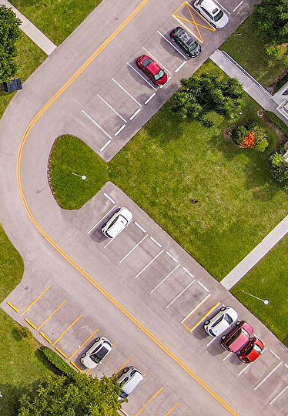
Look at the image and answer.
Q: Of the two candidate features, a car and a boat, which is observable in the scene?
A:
car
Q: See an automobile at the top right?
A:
Yes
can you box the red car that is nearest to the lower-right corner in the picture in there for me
[236,335,267,366]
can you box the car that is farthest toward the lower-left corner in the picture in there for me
[81,336,115,369]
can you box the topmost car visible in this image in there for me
[192,0,231,29]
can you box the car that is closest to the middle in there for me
[100,206,135,240]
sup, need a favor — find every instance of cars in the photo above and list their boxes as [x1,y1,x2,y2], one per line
[236,335,267,366]
[134,52,169,87]
[168,25,202,58]
[100,206,135,240]
[192,0,231,29]
[219,318,257,355]
[81,336,115,369]
[204,303,239,339]
[113,365,148,401]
